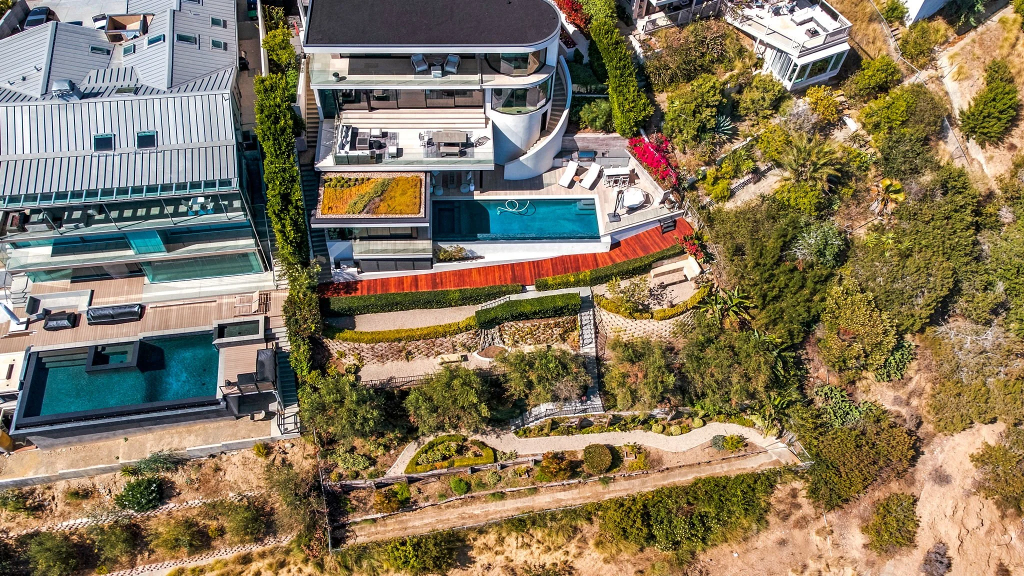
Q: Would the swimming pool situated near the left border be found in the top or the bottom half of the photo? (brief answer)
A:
bottom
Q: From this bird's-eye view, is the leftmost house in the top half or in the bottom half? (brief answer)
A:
top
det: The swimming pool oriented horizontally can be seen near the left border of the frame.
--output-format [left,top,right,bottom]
[9,327,232,452]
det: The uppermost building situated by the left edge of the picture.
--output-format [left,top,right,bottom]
[0,0,277,283]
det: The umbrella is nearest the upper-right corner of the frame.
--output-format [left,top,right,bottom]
[607,186,626,223]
